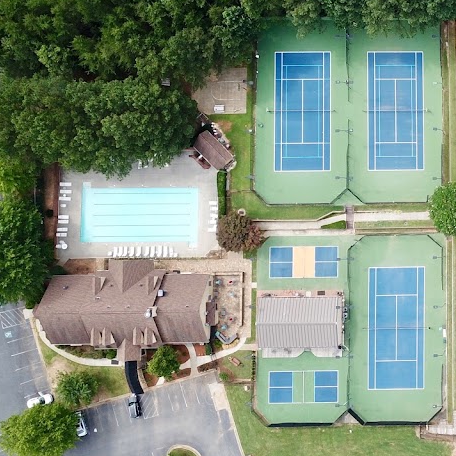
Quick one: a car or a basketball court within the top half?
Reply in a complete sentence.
The one visible within the top half is a basketball court.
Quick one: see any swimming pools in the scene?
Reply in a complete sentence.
Yes, the image includes a swimming pool.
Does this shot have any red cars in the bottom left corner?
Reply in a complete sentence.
No, there's no red car to be seen in the bottom left corner.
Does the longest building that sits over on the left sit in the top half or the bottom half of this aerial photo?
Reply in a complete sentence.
The longest building that sits over on the left sits in the bottom half of the picture.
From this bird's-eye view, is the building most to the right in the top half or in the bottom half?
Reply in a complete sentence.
You can find the building most to the right in the bottom half.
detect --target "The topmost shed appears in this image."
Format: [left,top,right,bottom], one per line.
[193,130,235,170]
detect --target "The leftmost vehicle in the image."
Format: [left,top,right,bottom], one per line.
[28,390,54,407]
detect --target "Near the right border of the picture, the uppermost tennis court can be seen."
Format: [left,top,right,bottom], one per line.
[348,16,442,202]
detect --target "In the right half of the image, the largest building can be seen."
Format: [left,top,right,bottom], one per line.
[253,288,347,357]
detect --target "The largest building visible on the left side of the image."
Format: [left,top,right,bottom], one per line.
[35,259,223,363]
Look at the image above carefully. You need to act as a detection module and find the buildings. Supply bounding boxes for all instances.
[193,130,235,170]
[35,259,223,363]
[253,288,347,357]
